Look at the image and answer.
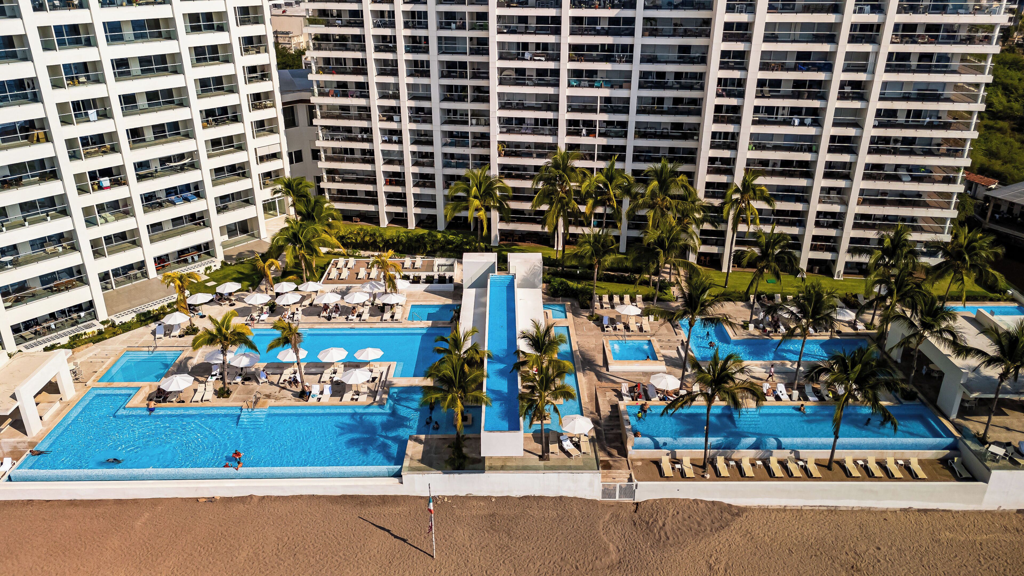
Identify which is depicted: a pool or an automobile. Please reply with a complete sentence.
It is a pool that can be seen here.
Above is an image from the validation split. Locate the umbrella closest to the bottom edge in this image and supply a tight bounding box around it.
[558,413,593,434]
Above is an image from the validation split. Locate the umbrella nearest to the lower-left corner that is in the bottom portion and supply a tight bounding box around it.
[160,374,195,402]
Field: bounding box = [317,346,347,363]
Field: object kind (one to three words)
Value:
umbrella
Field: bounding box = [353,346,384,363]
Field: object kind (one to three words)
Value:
umbrella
